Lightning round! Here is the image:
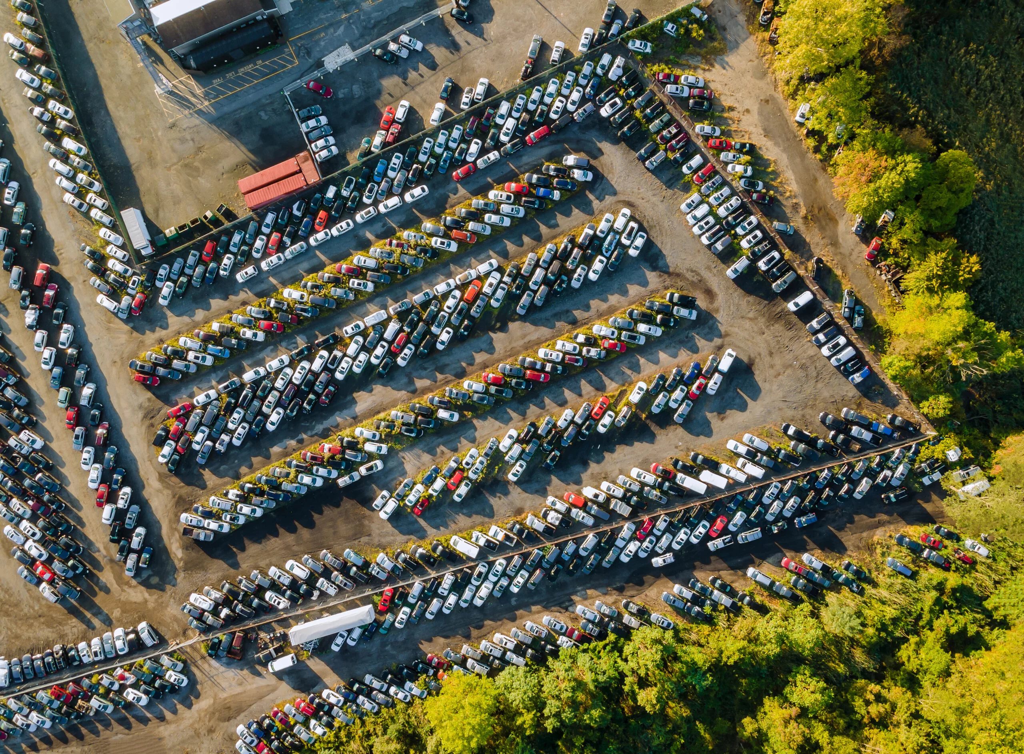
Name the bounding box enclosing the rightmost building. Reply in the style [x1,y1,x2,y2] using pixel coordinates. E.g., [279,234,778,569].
[146,0,287,80]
